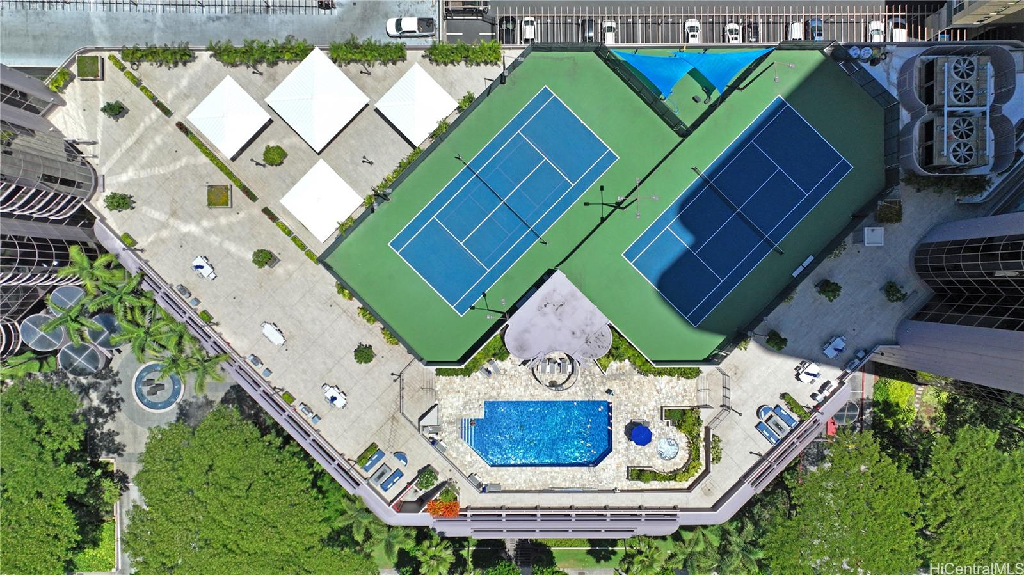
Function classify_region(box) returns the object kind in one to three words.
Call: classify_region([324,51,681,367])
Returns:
tennis court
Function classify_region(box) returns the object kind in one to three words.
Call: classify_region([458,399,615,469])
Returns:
swimming pool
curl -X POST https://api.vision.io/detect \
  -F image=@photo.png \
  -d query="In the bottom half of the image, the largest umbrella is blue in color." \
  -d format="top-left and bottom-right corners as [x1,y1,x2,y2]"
[630,424,652,446]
